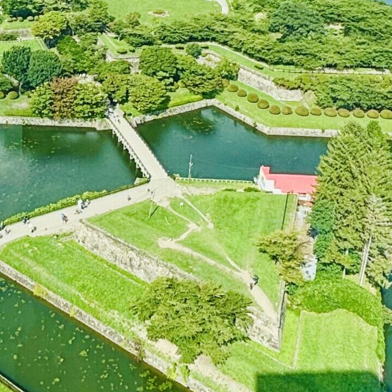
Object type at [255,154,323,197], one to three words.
house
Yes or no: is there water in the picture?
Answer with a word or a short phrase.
Yes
